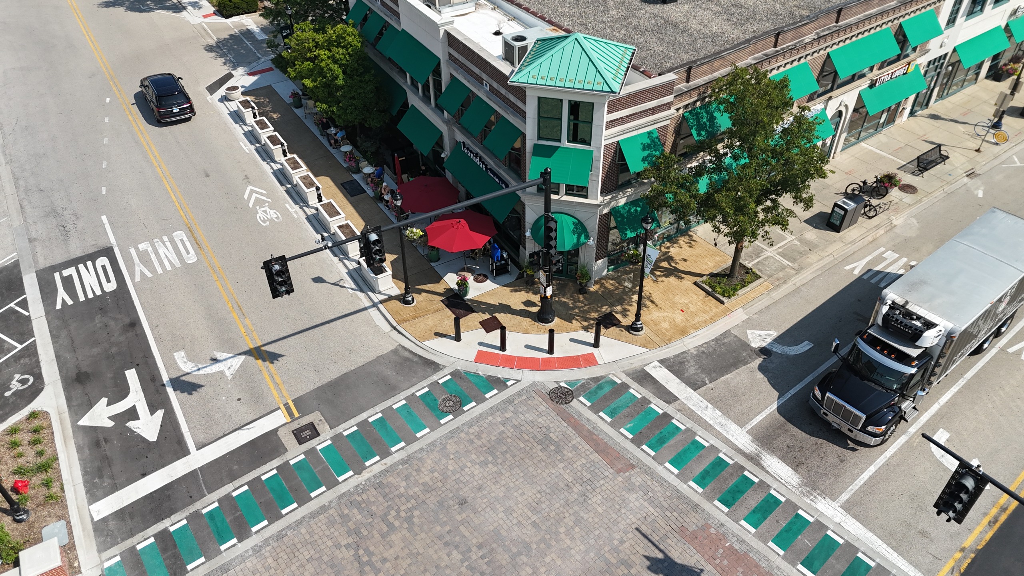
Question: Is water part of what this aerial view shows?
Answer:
No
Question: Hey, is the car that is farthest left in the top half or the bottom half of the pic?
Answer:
top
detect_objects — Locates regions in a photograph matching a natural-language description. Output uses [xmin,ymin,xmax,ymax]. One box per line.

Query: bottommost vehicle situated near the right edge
[811,208,1024,442]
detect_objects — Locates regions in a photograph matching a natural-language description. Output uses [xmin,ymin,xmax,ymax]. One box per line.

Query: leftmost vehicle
[143,82,194,125]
